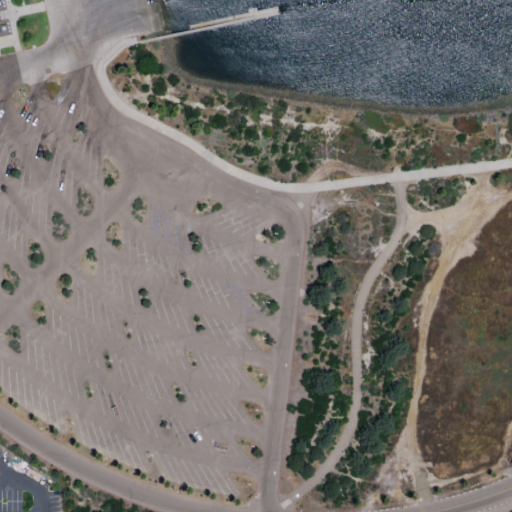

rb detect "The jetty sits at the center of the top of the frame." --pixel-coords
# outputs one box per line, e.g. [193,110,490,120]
[130,6,280,45]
